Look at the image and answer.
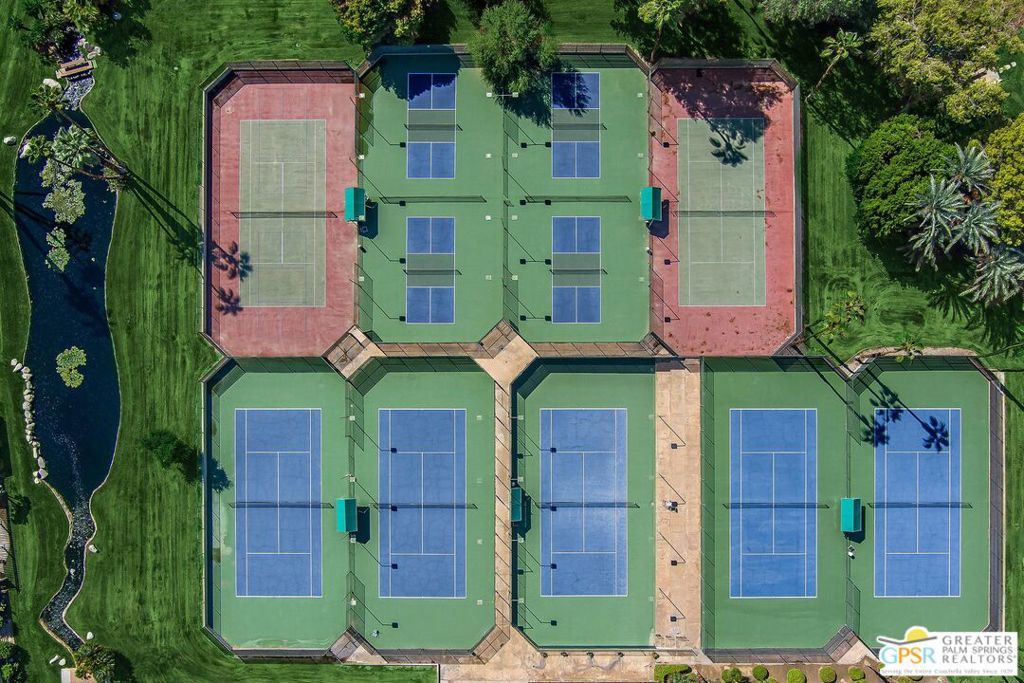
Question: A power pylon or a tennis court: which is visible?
tennis court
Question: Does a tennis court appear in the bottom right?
Yes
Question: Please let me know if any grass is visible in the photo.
Yes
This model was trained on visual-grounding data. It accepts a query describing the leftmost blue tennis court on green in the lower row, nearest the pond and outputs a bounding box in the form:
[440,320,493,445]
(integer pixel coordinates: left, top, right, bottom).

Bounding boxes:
[206,358,351,650]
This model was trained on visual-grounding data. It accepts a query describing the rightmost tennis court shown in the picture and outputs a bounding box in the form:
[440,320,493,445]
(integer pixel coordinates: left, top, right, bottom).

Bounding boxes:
[847,358,990,650]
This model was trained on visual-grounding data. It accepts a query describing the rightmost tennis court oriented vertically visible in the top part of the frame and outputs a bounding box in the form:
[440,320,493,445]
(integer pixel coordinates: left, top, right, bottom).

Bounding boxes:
[652,66,795,356]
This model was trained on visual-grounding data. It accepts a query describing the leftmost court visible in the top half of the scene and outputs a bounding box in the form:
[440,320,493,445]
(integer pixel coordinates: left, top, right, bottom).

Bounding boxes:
[206,69,358,357]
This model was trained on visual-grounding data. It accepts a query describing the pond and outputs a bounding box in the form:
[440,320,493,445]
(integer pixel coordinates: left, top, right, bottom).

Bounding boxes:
[13,72,119,658]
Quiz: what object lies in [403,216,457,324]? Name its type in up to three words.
sports court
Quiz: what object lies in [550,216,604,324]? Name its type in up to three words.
sports court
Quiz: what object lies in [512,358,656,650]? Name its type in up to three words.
tennis court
